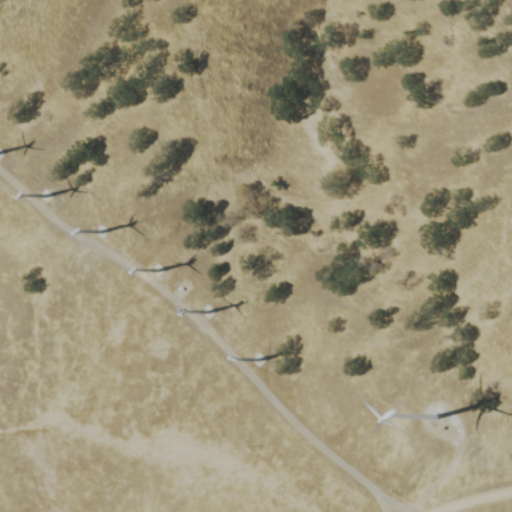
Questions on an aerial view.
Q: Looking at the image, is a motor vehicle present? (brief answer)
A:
No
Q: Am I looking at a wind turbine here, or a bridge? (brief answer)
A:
wind turbine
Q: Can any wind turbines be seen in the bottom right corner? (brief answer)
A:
Yes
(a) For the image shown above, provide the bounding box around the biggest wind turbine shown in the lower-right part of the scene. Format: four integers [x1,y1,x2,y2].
[356,390,442,447]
